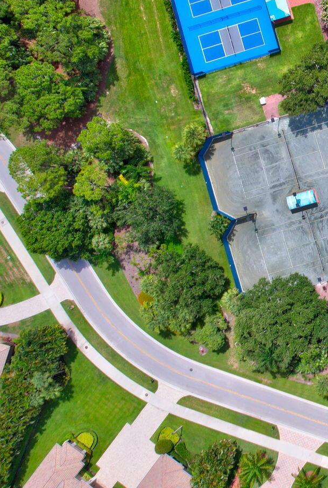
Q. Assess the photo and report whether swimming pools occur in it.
No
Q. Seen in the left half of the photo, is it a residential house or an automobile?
residential house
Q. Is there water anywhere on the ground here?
No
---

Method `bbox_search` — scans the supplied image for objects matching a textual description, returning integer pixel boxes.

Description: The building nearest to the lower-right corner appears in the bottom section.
[137,453,193,488]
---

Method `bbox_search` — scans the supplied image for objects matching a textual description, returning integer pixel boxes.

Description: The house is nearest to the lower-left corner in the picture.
[24,439,92,488]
